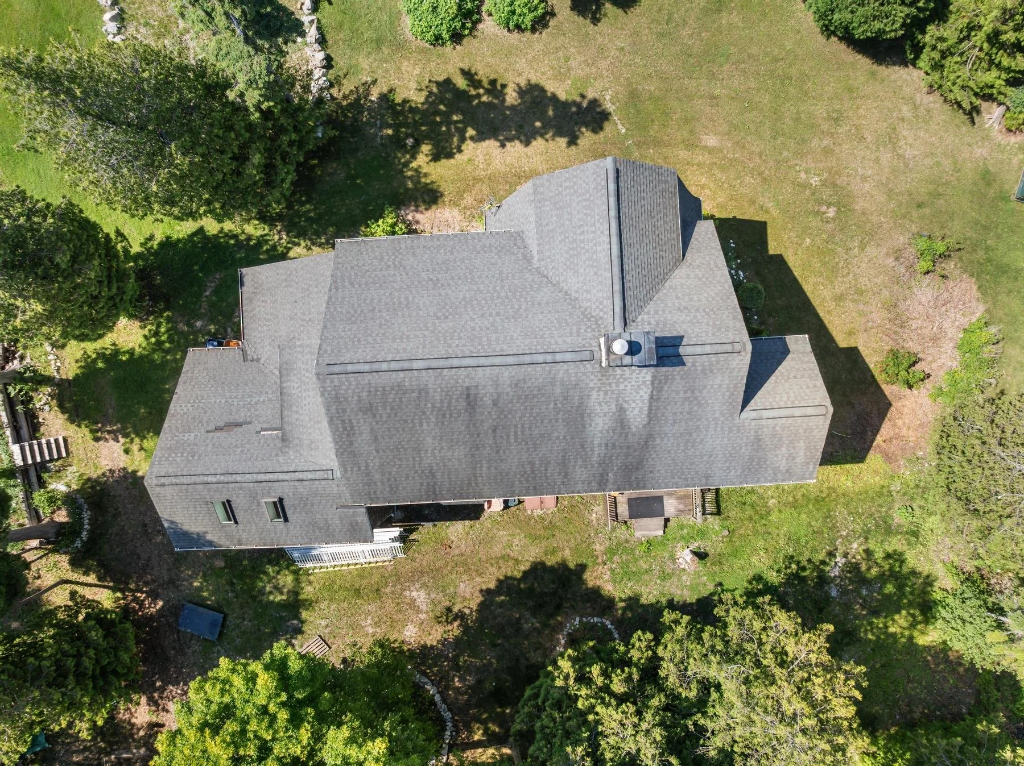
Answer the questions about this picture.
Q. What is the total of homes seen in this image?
one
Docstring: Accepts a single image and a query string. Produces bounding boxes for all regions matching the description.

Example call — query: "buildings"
[145,155,833,551]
